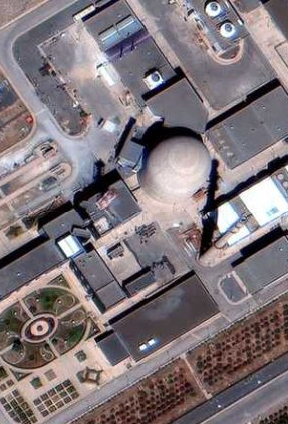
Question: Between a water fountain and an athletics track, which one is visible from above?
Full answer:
Looking from above, you can make out a water fountain.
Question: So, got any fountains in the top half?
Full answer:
No, no fountain can be made out in the top half.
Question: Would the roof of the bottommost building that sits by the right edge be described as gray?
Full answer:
Yes, gray is the color of the roof of the bottommost building that sits by the right edge.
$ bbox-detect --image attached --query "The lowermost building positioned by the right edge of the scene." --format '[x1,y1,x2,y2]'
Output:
[227,235,288,300]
